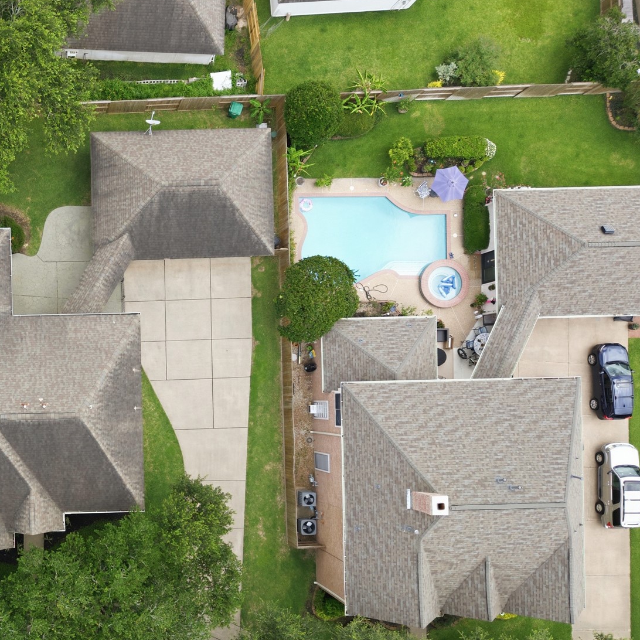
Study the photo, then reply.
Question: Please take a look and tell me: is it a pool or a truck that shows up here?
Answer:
pool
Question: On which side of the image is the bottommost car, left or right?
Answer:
right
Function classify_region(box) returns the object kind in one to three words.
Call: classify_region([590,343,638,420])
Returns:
car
